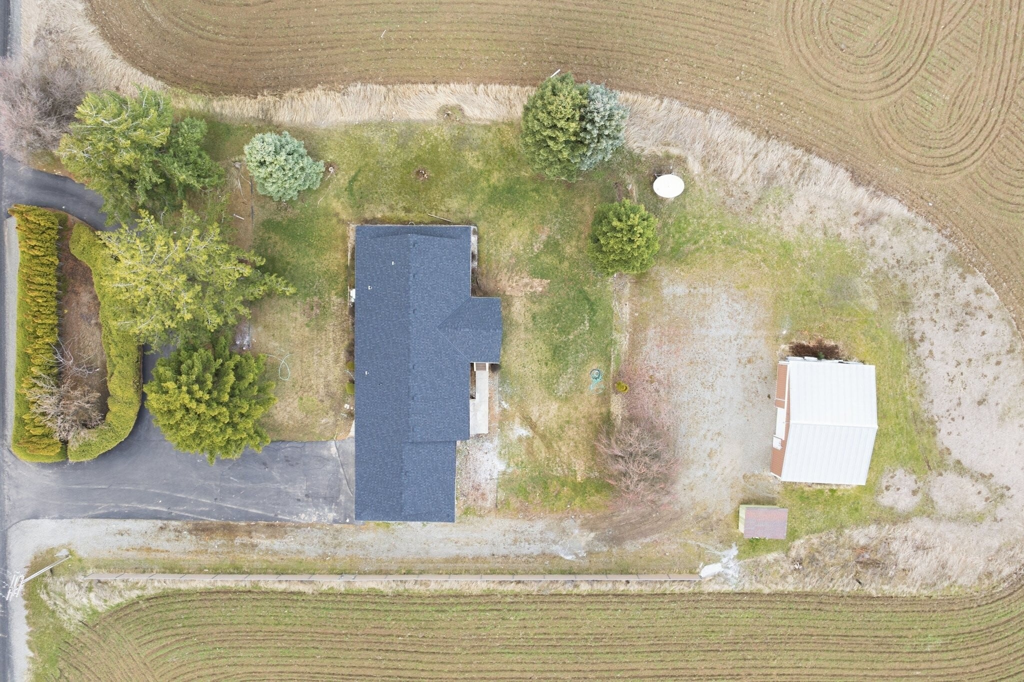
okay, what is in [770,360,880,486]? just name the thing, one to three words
barn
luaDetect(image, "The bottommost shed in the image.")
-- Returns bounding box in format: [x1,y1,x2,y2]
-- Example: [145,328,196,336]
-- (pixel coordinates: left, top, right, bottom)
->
[739,505,789,539]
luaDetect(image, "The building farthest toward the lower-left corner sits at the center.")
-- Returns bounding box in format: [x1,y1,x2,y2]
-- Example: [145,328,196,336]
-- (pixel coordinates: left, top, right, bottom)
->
[354,225,502,522]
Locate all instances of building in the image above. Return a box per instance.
[770,360,880,486]
[354,225,502,522]
[739,505,789,539]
